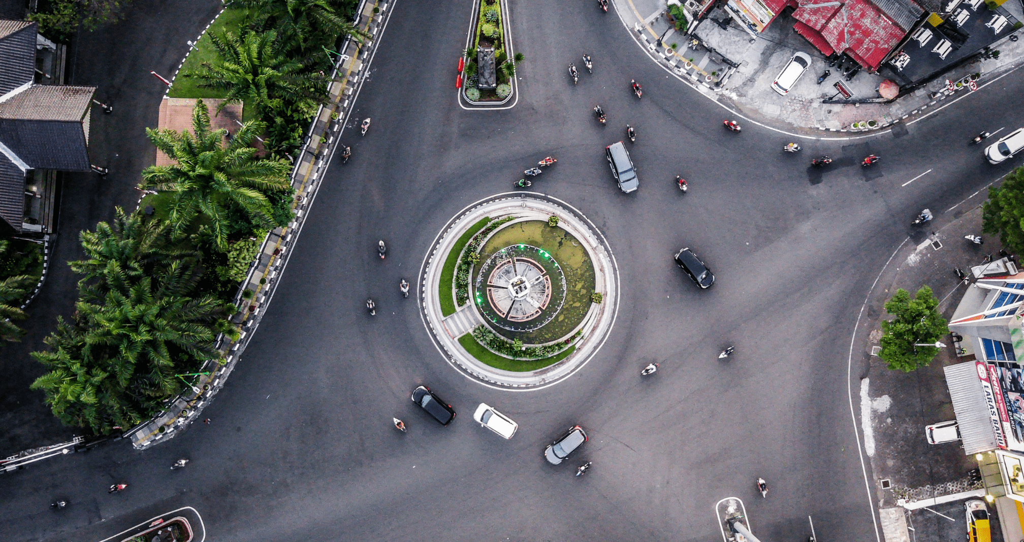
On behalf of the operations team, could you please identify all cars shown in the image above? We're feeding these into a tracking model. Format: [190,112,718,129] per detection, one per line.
[673,246,714,291]
[963,499,998,542]
[923,420,963,445]
[981,123,1024,164]
[771,51,810,97]
[545,425,588,465]
[411,387,457,428]
[475,402,519,442]
[605,142,638,194]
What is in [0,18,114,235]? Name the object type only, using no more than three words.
building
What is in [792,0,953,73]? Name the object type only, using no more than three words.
building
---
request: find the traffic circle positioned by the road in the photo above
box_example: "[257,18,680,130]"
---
[423,197,614,387]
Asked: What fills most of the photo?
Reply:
paved ground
